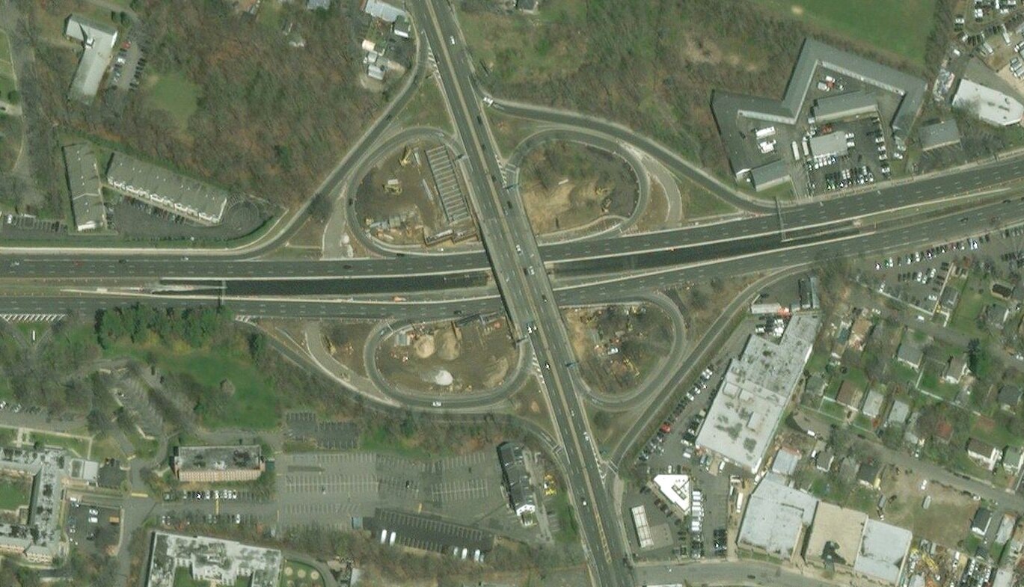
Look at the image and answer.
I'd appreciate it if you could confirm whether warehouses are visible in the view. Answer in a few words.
Yes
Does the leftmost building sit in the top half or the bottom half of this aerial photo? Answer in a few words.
bottom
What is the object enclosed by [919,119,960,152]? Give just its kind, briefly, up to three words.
building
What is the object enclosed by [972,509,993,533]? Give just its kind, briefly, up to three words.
house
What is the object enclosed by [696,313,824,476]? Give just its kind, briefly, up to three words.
warehouse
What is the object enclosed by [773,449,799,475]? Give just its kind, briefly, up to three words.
shed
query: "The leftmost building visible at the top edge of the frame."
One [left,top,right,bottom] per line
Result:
[66,13,120,110]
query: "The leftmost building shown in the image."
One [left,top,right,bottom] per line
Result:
[0,448,70,555]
